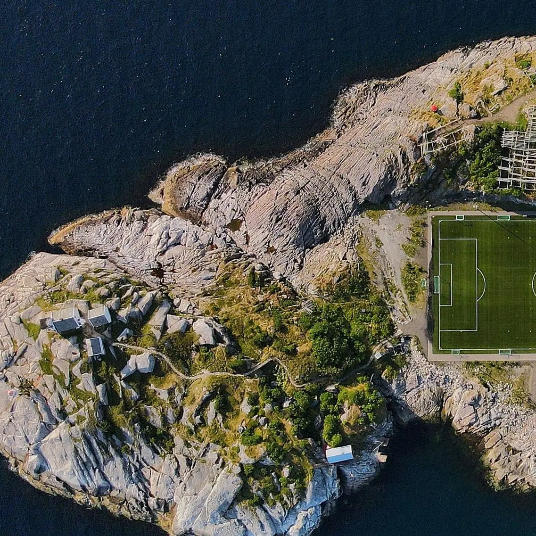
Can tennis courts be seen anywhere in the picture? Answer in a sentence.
No, no tennis court is visible in the view.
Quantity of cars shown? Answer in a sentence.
There are no cars in this view.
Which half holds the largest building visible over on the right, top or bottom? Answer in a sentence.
The bottom half of the photo is where the largest building visible over on the right is.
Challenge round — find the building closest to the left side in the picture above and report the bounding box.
[40,305,86,335]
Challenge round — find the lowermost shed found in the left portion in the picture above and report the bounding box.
[85,336,105,357]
